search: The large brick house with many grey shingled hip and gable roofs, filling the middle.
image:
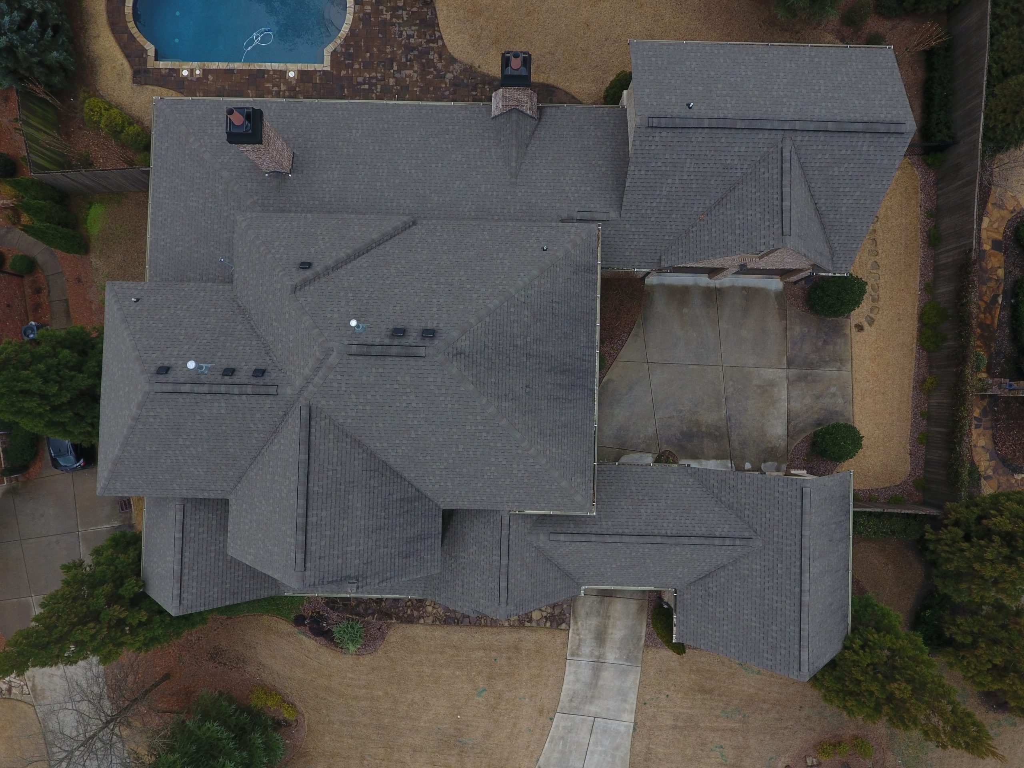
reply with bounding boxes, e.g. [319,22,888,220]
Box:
[96,38,918,682]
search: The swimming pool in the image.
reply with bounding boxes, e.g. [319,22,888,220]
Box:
[125,0,354,70]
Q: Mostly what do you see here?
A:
buildings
